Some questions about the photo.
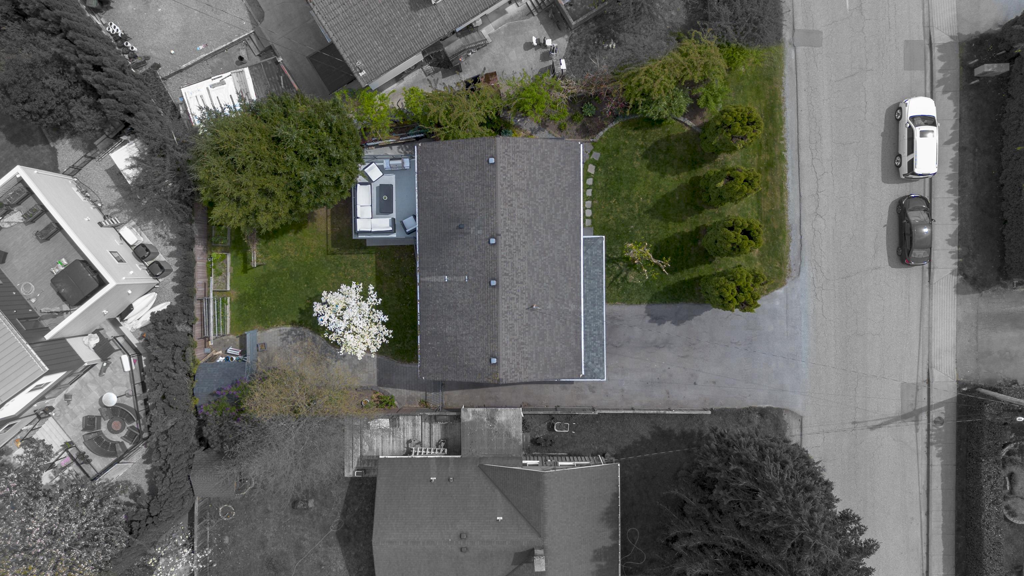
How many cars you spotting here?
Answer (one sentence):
I count 2 cars.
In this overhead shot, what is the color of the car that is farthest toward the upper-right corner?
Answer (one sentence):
In this view, the car that is farthest toward the upper-right corner is white.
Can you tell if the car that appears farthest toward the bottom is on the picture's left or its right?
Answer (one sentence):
The car that appears farthest toward the bottom is on the right side of the image.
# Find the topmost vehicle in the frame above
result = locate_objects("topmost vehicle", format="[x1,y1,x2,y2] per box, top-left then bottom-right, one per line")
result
[893,99,939,182]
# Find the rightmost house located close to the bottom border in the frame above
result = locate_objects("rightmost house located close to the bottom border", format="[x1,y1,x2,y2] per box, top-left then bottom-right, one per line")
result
[372,440,621,576]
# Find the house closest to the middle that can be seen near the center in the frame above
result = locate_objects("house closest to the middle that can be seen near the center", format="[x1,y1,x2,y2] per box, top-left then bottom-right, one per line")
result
[416,136,607,383]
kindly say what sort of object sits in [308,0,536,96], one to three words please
house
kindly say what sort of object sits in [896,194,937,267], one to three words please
car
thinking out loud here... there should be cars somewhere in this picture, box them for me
[896,194,937,267]
[893,99,939,182]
